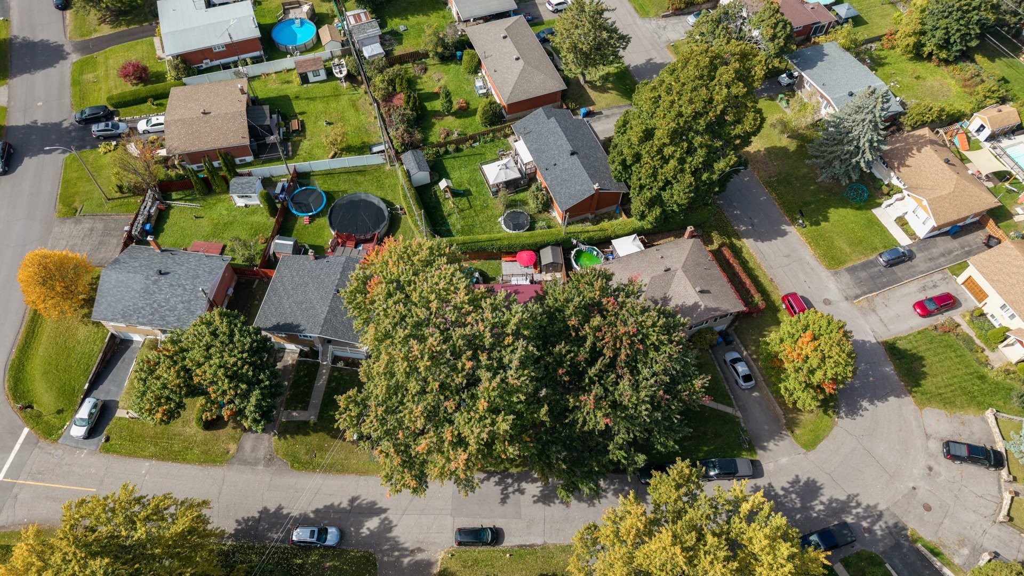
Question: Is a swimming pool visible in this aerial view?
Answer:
Yes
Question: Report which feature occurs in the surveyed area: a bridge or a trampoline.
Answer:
trampoline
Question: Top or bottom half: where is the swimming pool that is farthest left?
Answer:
top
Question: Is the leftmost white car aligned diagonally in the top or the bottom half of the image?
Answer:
bottom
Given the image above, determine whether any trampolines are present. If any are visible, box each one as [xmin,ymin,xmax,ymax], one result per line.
[502,202,530,232]
[284,178,328,221]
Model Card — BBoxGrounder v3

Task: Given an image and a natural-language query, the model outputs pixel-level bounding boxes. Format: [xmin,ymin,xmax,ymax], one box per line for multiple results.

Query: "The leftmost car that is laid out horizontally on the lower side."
[287,522,342,547]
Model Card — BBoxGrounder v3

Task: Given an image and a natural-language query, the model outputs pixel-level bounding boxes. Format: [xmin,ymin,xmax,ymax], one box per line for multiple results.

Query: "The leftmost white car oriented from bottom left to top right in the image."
[69,395,107,439]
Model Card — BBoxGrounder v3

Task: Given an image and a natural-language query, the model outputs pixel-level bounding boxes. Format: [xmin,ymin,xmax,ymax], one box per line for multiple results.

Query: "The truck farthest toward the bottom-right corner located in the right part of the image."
[944,440,1005,470]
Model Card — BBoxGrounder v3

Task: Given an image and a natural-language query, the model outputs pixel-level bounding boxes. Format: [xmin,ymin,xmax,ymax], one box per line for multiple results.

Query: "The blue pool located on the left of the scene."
[269,18,320,55]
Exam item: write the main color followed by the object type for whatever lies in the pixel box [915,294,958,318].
red car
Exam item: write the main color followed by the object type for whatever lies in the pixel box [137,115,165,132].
white car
